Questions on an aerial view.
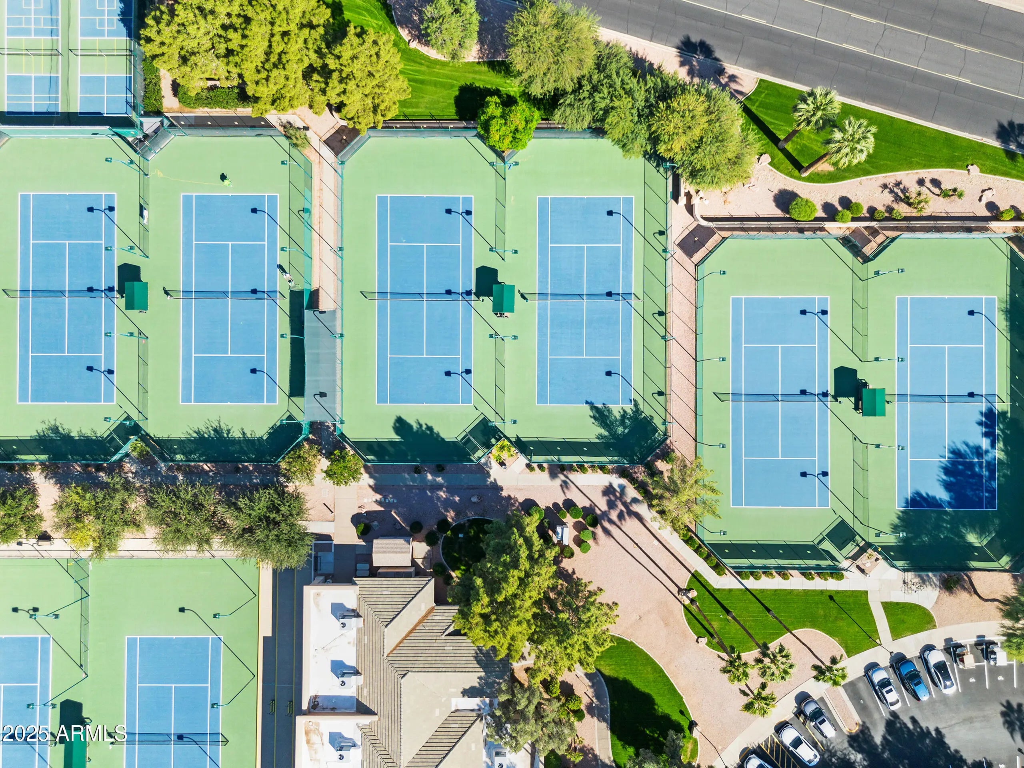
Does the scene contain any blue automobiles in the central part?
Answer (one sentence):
No, no blue automobile appears in the central part.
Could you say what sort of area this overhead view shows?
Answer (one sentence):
The picture captures a sports ground.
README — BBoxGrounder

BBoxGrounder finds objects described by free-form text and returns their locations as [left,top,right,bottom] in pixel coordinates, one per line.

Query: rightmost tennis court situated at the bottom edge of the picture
[88,559,257,768]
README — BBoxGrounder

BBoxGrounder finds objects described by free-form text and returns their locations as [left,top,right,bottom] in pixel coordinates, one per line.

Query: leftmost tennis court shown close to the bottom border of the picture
[0,559,88,768]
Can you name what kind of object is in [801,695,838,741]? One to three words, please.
car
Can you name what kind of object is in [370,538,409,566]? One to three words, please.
shed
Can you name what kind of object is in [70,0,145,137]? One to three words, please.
sports court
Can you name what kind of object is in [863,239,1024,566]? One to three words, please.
tennis court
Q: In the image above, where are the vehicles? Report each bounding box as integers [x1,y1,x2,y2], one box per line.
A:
[954,646,976,670]
[801,695,838,741]
[897,656,933,704]
[777,720,821,768]
[924,646,959,697]
[744,751,768,768]
[986,644,1007,668]
[866,665,902,713]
